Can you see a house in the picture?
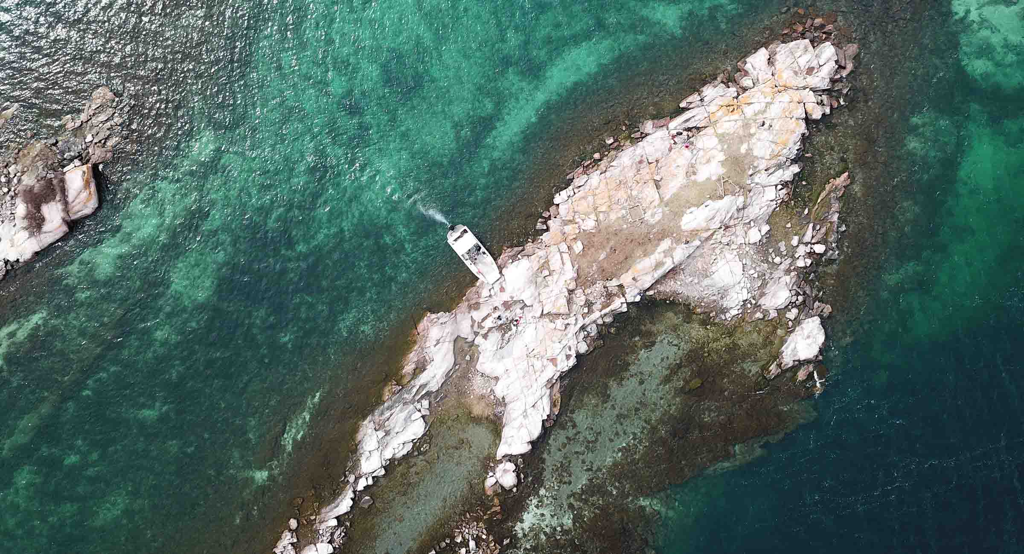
No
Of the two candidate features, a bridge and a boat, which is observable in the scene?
boat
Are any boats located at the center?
Yes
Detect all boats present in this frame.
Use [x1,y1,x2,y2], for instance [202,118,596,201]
[447,223,502,285]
